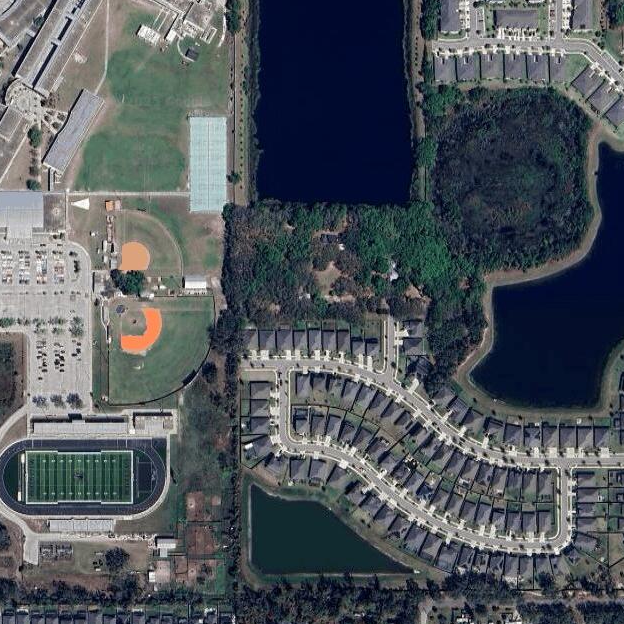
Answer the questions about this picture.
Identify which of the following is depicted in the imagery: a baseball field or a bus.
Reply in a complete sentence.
There is a baseball field in the scene.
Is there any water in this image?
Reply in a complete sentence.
Yes, there's water in this view.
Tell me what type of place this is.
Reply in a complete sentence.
It's a residential area.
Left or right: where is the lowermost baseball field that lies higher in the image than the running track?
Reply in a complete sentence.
You can find the lowermost baseball field that lies higher in the image than the running track on the left side of the picture.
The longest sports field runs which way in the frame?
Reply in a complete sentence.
I'd say the longest sports field is aligned from side to side in the picture.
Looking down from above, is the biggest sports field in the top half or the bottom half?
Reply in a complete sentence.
The bottom half of the photo is where the biggest sports field is.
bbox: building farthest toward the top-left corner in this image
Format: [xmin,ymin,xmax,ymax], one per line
[0,0,44,45]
